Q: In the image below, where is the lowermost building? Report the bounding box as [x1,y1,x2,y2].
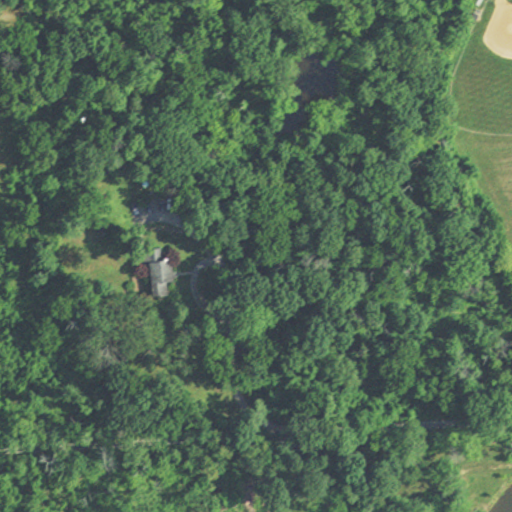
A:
[150,258,178,298]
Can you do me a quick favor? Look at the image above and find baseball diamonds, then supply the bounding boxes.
[450,0,512,136]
